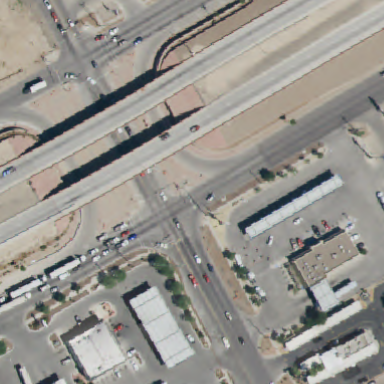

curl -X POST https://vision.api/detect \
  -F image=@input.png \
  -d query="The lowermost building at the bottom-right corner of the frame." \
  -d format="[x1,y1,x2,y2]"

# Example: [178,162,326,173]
[306,328,376,368]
